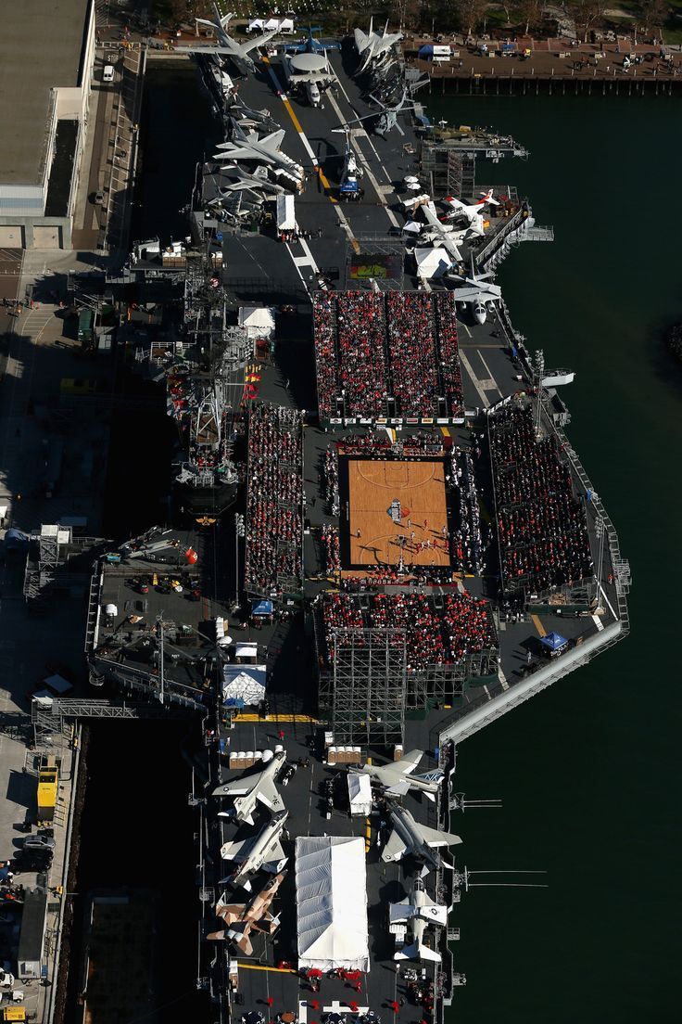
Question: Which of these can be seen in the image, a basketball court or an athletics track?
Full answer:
There is a basketball court in the scene.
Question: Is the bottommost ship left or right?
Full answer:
It is on the left.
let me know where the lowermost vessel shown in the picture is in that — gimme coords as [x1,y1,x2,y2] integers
[73,897,164,1024]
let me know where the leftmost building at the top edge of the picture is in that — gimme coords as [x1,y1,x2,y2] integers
[0,0,101,252]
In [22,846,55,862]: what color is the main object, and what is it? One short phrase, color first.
black car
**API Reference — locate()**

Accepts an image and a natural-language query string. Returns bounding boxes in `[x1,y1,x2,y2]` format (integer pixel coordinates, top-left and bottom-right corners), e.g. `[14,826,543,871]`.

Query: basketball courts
[338,455,463,572]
